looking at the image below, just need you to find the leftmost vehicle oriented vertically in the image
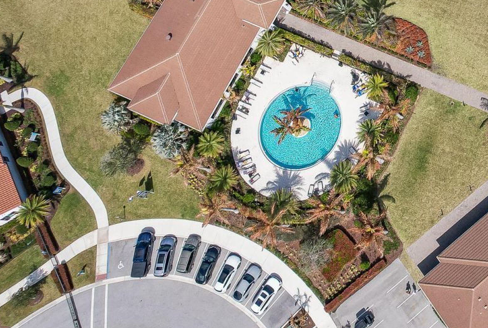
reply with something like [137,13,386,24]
[131,232,156,276]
